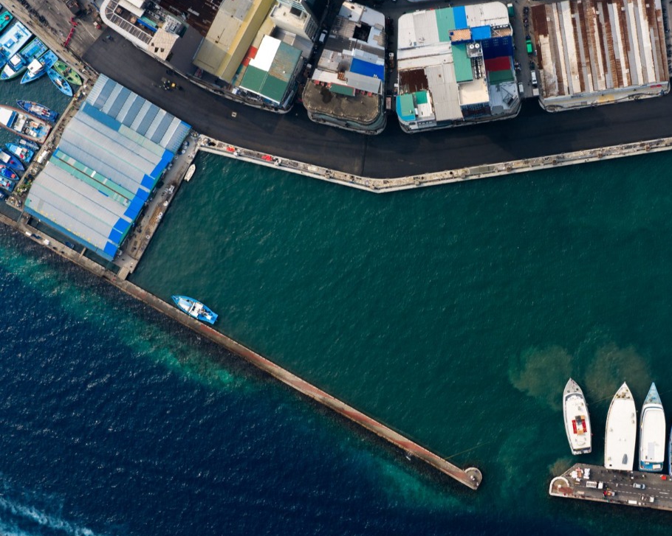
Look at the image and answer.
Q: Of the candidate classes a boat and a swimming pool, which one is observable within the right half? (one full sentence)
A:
Looking within the right half, you will find a boat.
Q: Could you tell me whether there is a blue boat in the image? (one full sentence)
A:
Yes, the frame does contain a blue boat.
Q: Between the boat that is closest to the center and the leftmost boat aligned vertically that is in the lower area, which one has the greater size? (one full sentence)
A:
The larger object is the leftmost boat aligned vertically that is in the lower area, with the boat that is closest to the center being the smaller of the pair.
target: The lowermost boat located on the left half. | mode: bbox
[174,296,223,324]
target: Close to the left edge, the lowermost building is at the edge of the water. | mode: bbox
[25,73,197,260]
